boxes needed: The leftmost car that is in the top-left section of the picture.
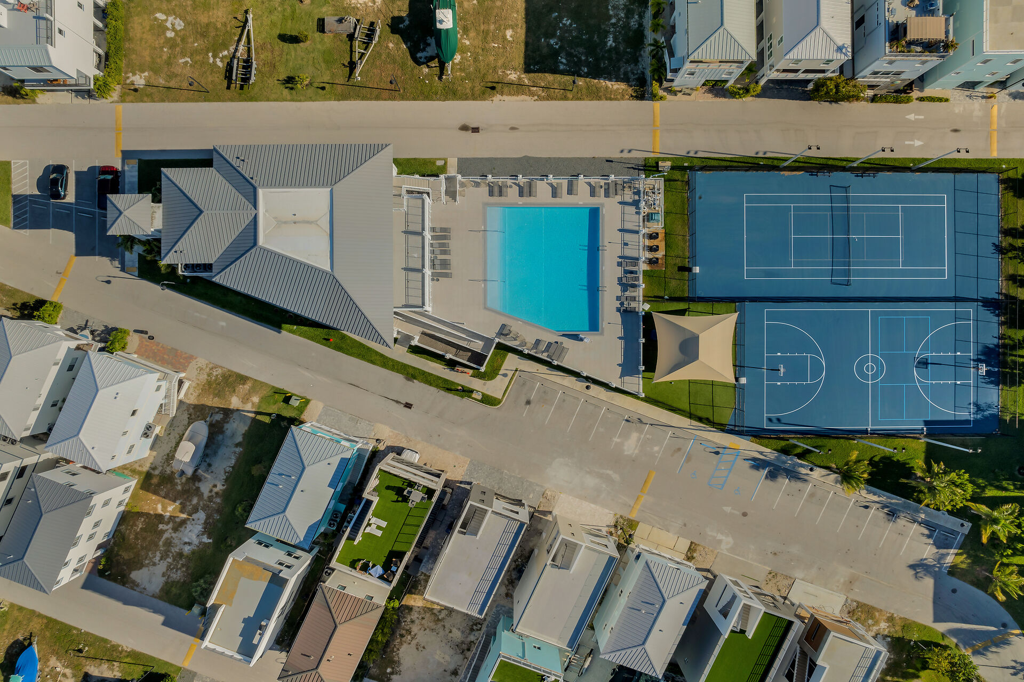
[45,163,67,199]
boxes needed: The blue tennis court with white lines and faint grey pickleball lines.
[689,171,1000,299]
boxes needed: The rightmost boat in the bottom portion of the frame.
[155,422,204,486]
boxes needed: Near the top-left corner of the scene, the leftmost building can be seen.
[0,0,114,94]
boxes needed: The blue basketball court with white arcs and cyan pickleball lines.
[726,302,1000,441]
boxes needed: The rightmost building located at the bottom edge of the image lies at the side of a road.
[768,587,891,682]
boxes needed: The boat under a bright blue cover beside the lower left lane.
[10,640,39,682]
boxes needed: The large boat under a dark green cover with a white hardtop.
[432,0,458,63]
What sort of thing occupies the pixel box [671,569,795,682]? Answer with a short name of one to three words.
house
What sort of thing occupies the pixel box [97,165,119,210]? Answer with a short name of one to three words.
truck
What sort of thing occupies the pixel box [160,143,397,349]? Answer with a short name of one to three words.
building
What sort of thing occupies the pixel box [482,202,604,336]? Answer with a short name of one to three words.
swimming pool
